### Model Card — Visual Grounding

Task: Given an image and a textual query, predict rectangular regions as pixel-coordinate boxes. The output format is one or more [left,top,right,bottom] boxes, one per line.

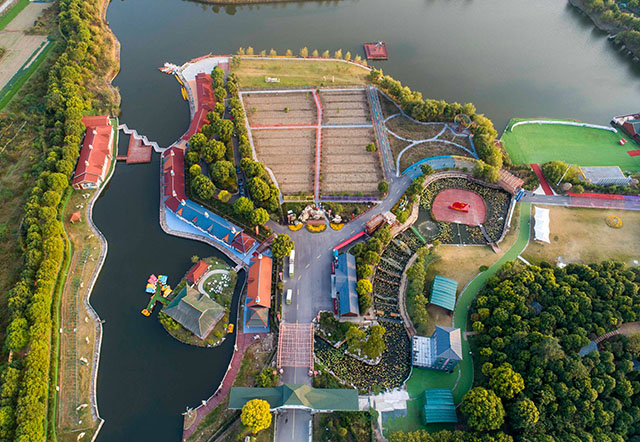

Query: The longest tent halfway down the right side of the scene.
[532,205,550,248]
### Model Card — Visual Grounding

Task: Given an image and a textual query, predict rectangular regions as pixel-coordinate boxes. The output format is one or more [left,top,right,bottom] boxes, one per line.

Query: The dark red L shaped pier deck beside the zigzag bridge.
[118,132,153,165]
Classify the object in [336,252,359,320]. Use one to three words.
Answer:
house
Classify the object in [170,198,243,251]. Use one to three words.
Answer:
building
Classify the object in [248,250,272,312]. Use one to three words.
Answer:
building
